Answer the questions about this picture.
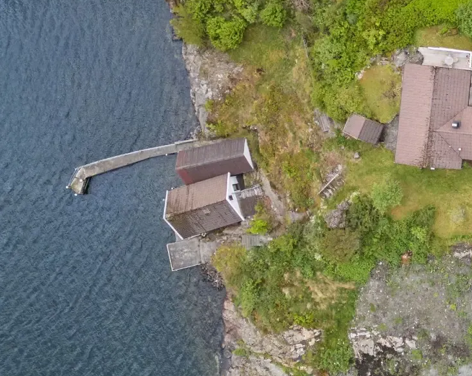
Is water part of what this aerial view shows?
Yes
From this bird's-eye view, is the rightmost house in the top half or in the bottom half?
top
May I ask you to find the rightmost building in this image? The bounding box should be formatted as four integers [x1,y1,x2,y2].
[394,65,472,170]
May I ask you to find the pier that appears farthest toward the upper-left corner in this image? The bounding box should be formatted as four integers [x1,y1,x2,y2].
[69,140,202,196]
